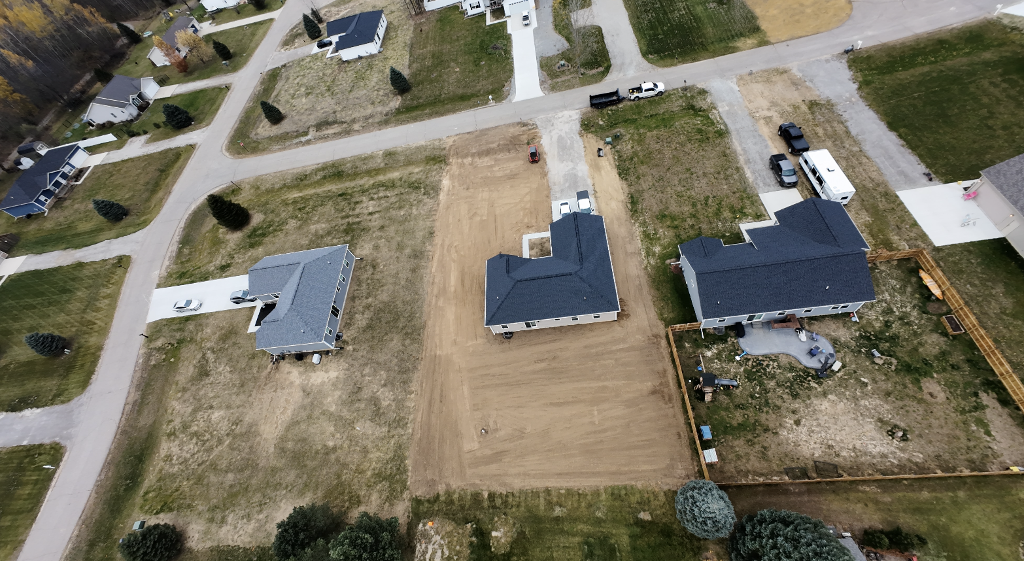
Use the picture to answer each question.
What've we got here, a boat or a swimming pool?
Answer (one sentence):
The image shows a boat.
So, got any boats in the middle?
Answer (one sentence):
No, there is no boat in the middle.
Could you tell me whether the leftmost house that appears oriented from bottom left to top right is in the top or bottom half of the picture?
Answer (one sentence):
You can find the leftmost house that appears oriented from bottom left to top right in the top half.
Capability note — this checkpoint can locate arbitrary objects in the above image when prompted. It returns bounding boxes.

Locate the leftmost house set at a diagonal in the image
[1,144,92,215]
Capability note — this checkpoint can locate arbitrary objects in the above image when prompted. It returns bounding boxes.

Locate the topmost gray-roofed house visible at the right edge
[965,155,1024,257]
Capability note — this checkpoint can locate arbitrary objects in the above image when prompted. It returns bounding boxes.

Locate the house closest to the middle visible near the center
[484,211,620,339]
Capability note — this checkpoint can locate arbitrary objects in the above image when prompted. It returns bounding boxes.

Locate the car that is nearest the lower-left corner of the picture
[172,298,199,314]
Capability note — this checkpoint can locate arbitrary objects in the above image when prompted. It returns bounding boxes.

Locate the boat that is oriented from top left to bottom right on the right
[914,268,938,300]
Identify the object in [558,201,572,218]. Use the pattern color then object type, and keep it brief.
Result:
white car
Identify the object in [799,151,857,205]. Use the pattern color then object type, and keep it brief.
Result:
white vehicle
